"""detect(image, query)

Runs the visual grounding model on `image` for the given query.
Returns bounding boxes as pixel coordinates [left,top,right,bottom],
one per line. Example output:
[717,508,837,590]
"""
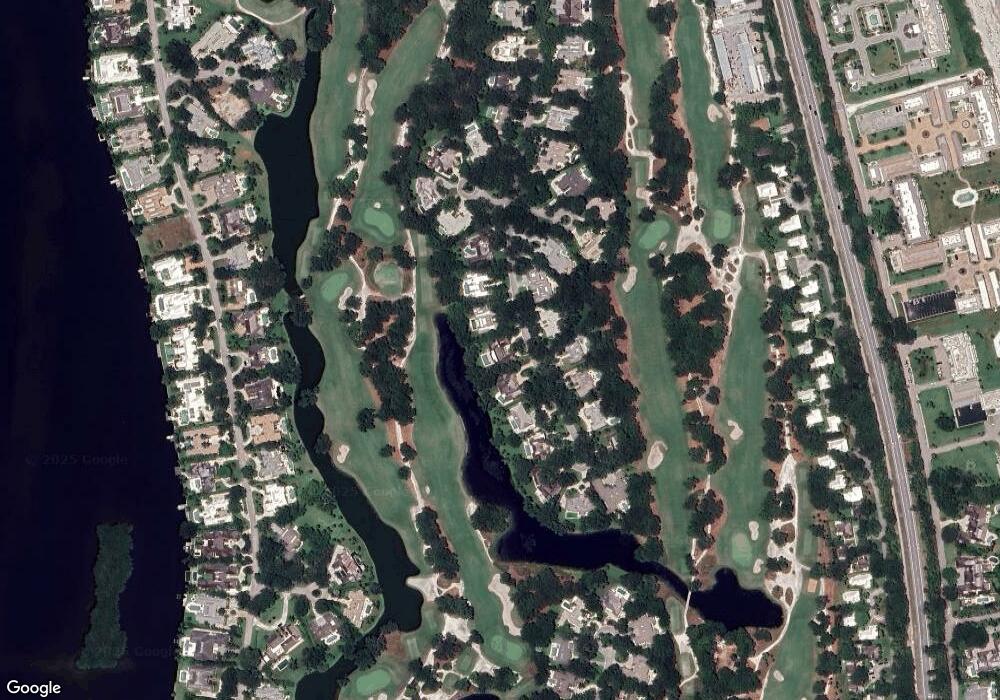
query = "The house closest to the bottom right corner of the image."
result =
[964,638,1000,671]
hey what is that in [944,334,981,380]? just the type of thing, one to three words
building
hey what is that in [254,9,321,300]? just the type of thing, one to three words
pond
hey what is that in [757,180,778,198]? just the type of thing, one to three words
house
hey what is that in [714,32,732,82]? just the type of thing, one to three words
shed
